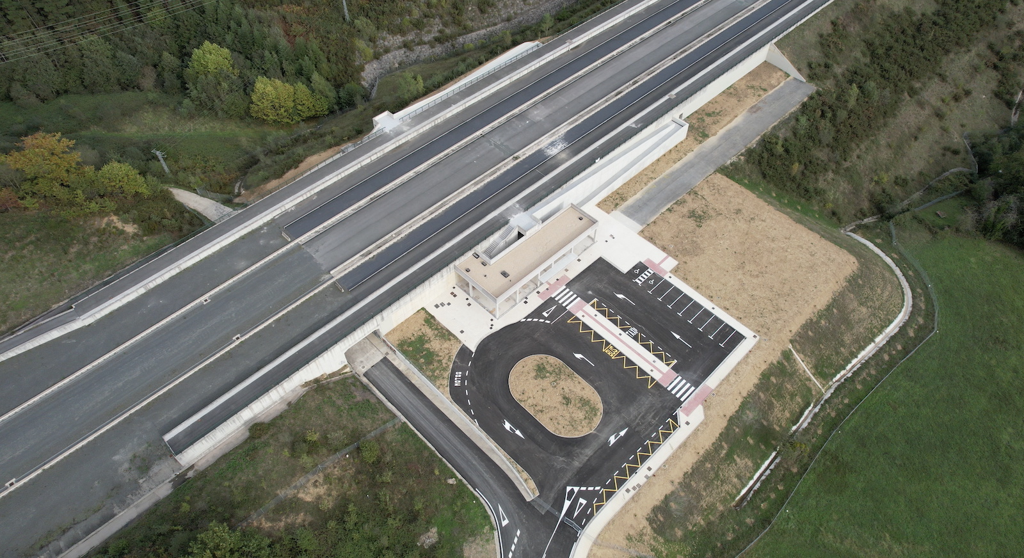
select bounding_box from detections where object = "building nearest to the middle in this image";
[455,202,600,320]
